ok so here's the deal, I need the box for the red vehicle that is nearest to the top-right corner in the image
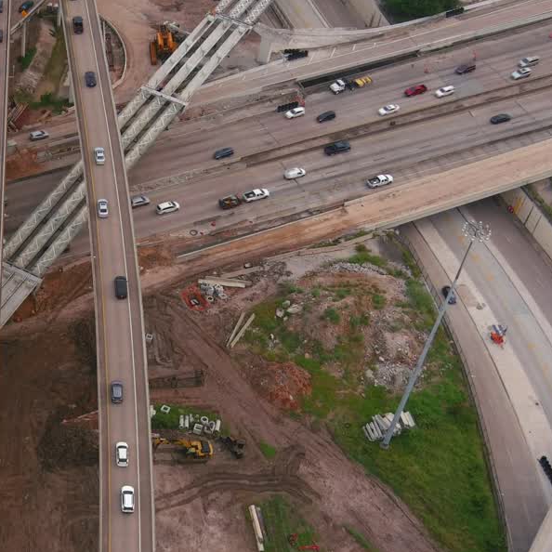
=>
[403,84,429,96]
